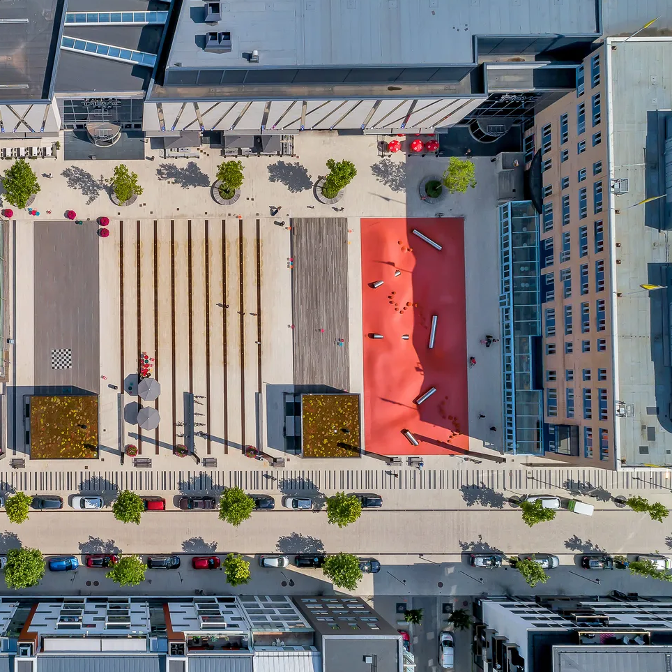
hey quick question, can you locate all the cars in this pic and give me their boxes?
[524,496,561,510]
[438,630,456,668]
[0,556,7,570]
[180,496,216,512]
[351,559,380,574]
[636,555,671,570]
[292,554,324,570]
[48,556,79,572]
[85,555,118,569]
[347,494,382,509]
[284,497,314,511]
[397,627,411,656]
[31,496,63,511]
[136,497,165,511]
[469,554,502,570]
[525,554,557,570]
[147,555,180,571]
[73,496,105,511]
[258,554,289,570]
[244,497,275,511]
[191,556,220,571]
[580,555,612,571]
